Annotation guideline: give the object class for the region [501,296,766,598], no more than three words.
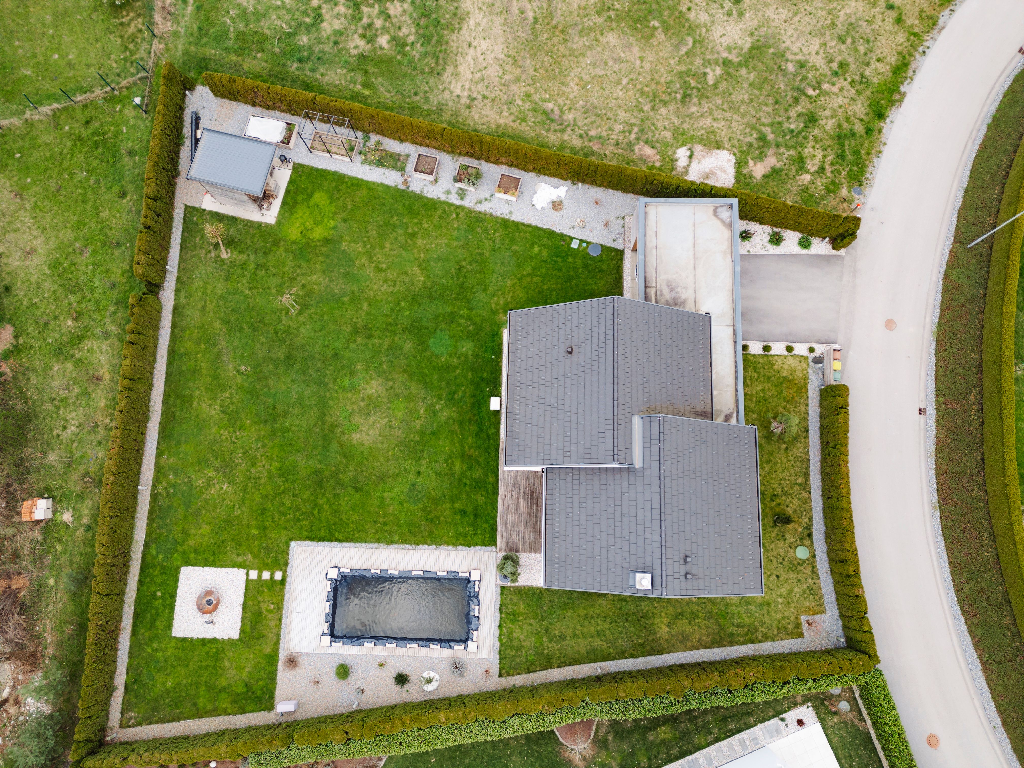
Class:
house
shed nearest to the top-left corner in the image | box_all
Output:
[185,126,278,212]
